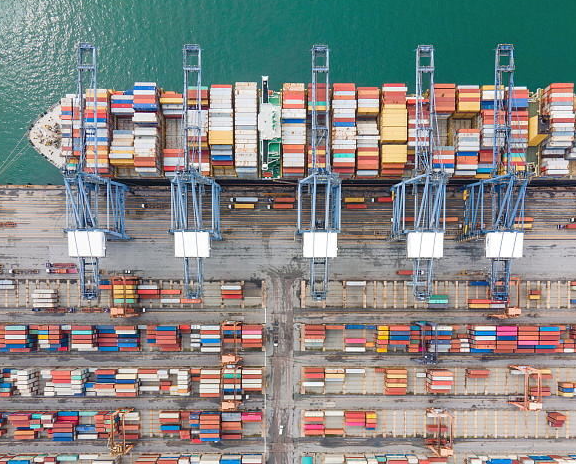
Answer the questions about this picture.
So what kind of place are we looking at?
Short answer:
port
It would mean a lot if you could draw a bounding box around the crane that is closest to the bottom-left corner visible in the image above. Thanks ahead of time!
[109,409,137,458]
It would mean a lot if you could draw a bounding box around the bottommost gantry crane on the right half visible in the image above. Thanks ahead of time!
[425,409,456,459]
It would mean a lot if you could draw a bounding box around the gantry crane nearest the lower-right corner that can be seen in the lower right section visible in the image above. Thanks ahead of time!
[507,366,543,413]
